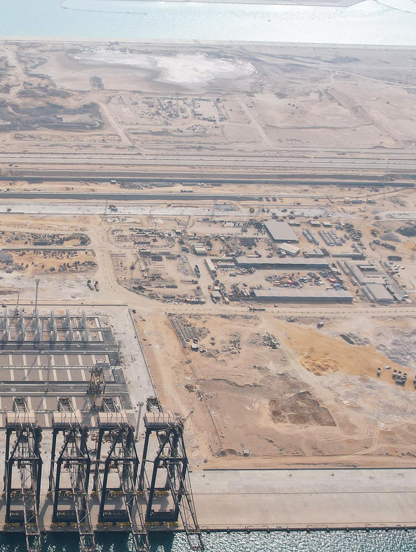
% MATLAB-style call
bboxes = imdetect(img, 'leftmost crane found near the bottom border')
[2,395,45,552]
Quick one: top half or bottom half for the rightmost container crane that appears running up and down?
bottom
